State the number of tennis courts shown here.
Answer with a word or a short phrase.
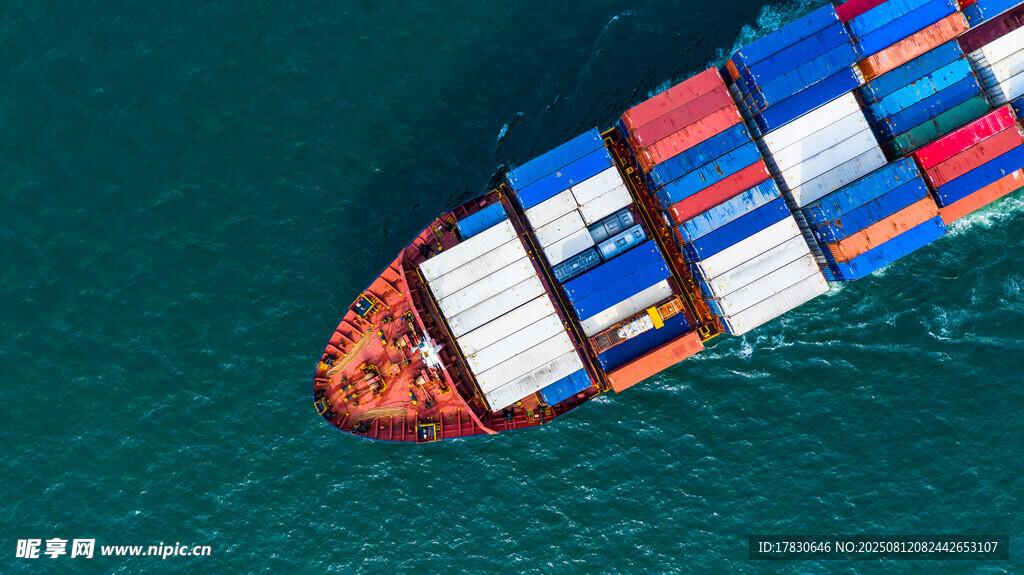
0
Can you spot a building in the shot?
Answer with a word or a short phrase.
No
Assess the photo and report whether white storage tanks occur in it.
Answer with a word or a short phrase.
No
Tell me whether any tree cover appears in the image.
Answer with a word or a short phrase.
No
